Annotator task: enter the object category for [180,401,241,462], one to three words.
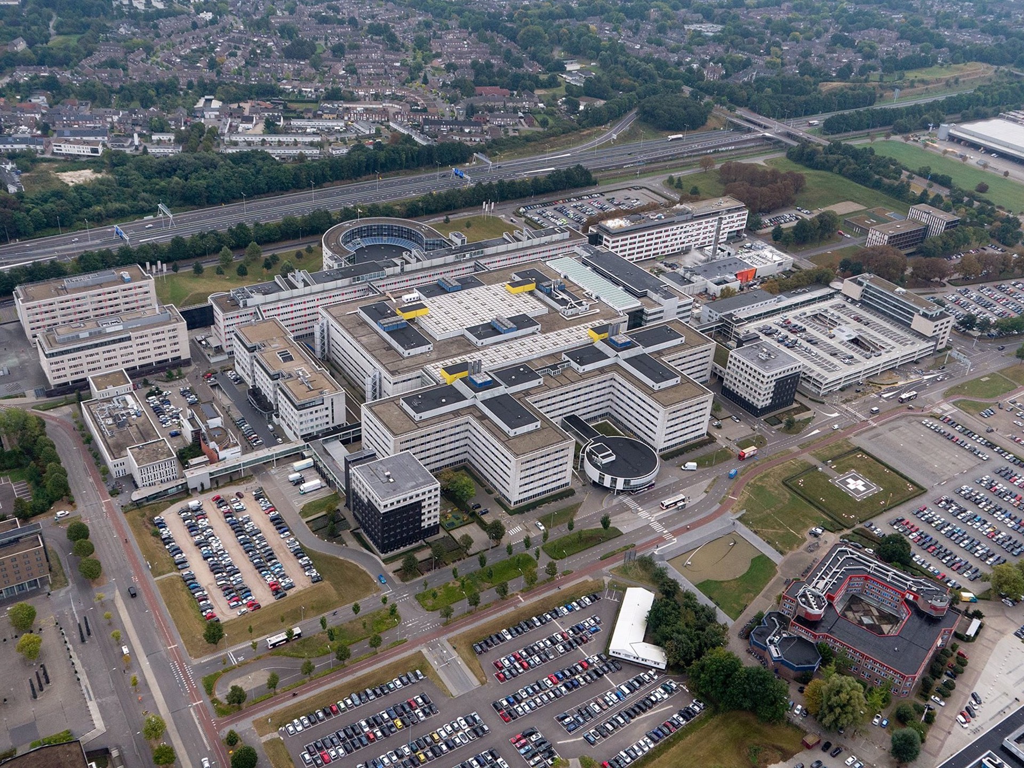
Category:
building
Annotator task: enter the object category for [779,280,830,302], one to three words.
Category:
shed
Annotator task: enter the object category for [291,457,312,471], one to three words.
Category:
vehicle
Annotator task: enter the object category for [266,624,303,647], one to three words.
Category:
bus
